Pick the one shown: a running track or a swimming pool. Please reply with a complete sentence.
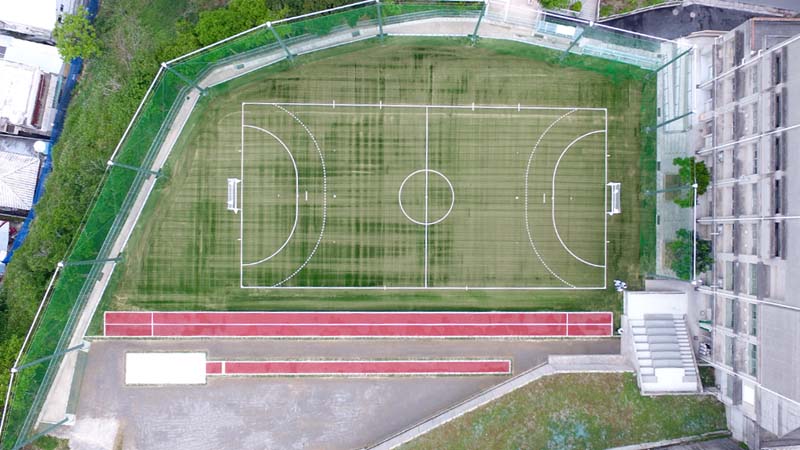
I can see a running track in this picture.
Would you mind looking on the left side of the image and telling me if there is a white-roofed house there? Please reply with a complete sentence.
Yes, the scene does show a white-roofed house on the left side of the image.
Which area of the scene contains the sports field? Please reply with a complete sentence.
Look in the center portion of the view to spot the sports field.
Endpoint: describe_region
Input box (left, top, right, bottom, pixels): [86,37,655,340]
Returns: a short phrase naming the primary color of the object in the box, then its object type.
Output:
green sports field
